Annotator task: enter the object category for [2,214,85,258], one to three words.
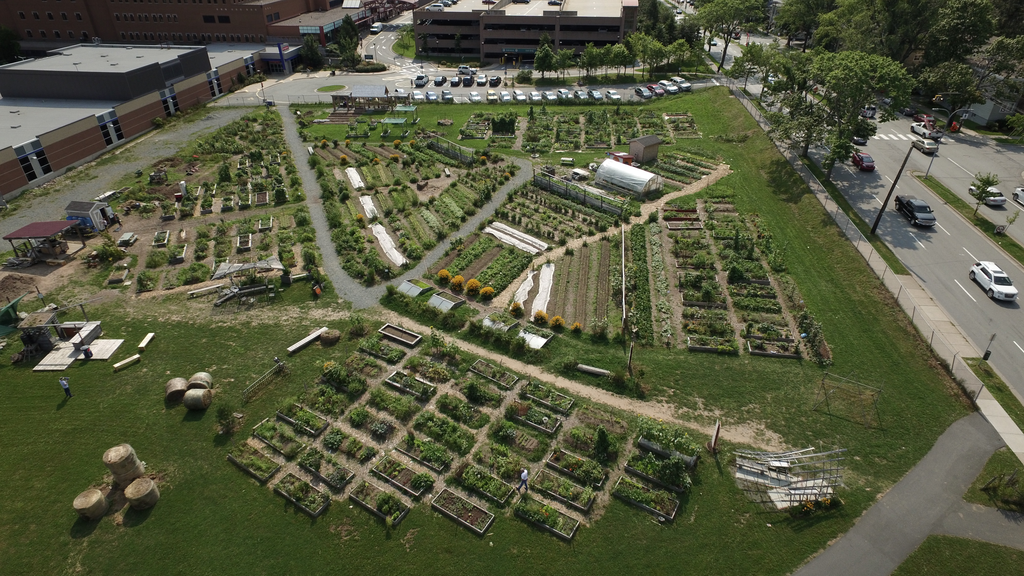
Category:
building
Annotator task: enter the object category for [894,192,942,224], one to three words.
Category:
truck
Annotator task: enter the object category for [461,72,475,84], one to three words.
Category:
vehicle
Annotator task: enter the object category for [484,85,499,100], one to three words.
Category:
car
